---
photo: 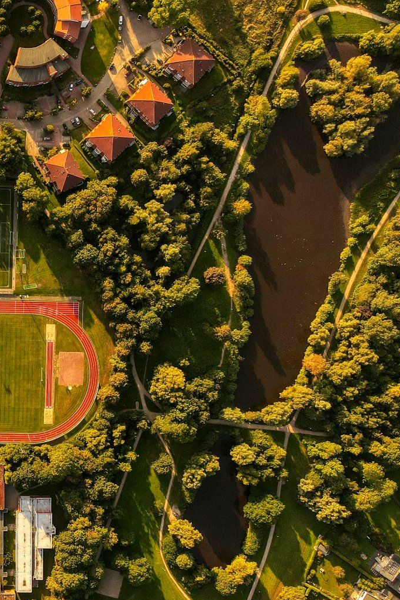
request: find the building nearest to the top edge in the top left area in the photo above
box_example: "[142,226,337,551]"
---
[52,0,90,46]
